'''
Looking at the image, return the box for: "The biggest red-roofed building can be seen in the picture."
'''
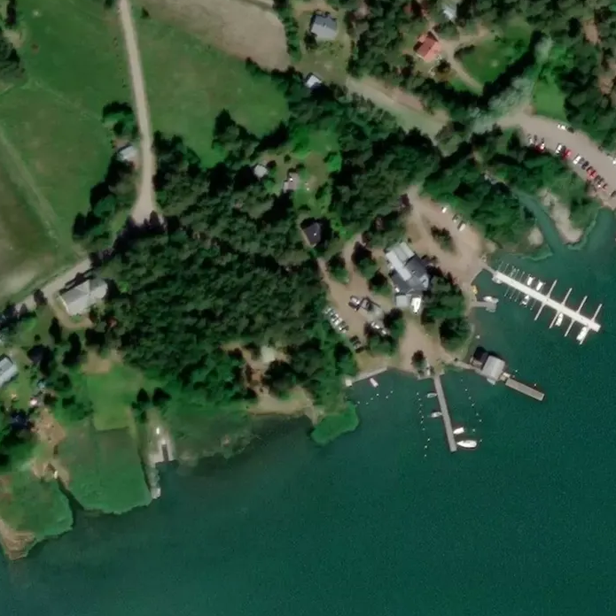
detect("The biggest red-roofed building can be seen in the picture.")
[412,31,443,61]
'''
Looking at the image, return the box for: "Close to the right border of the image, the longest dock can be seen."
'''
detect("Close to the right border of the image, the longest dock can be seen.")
[493,262,601,345]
